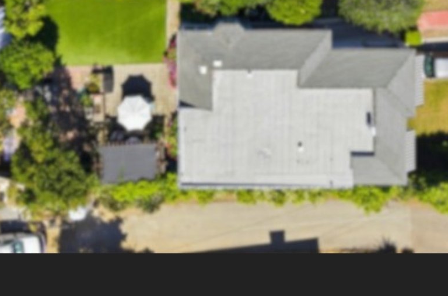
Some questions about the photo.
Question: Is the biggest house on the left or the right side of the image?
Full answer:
The biggest house sits on the right side.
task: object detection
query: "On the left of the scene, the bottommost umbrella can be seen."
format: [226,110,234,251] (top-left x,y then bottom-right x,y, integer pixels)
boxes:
[118,96,152,129]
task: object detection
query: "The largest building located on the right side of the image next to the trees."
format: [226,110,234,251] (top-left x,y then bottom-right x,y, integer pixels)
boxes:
[178,20,423,190]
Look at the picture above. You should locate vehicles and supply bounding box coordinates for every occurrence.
[416,52,448,84]
[0,216,42,254]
